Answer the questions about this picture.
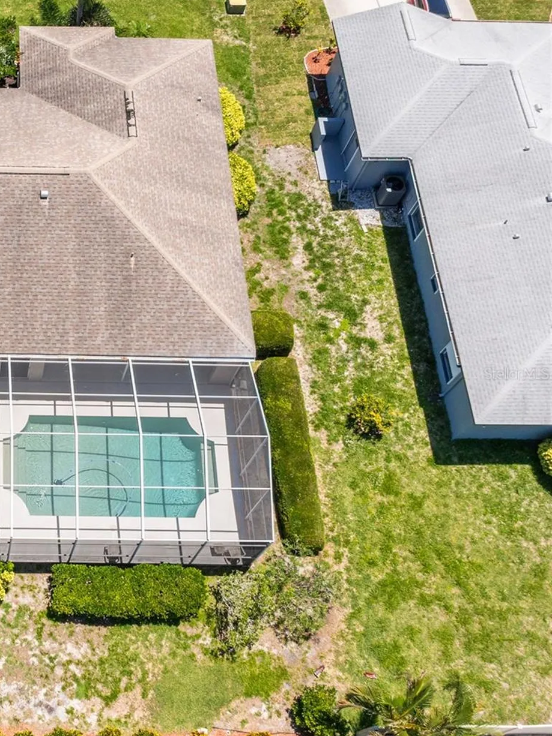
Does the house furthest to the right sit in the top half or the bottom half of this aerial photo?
top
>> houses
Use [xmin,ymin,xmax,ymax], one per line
[0,25,257,392]
[322,0,552,449]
